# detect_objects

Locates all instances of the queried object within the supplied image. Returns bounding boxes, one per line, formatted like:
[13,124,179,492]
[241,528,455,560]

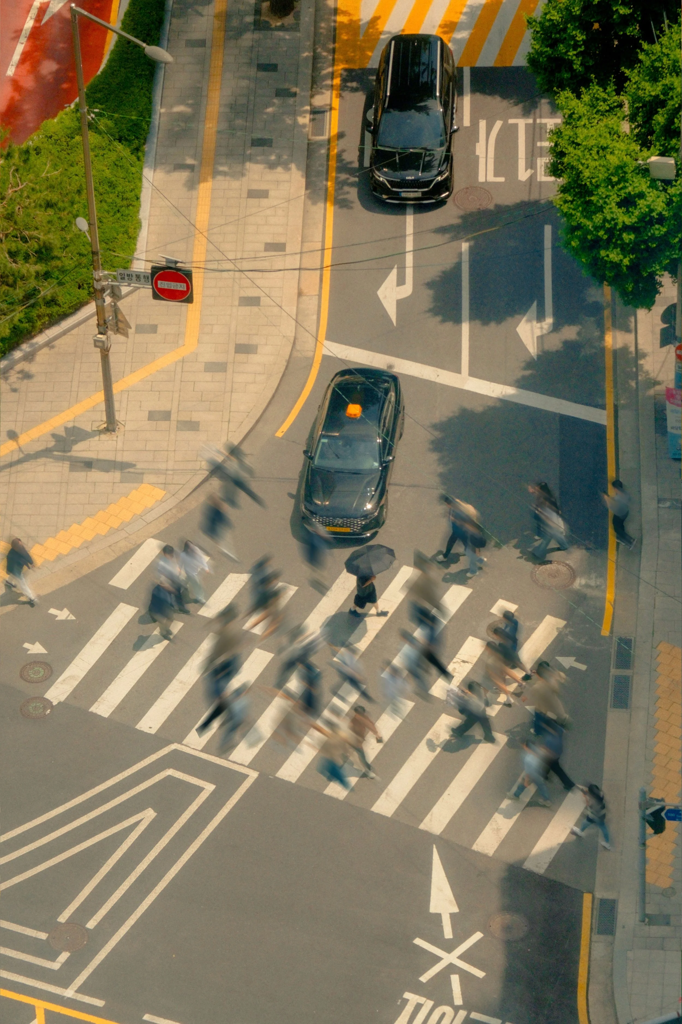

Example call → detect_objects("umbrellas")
[344,542,396,578]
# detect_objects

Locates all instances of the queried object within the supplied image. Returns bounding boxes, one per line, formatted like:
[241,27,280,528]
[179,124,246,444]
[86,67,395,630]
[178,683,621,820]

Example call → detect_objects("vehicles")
[363,37,462,201]
[300,371,405,535]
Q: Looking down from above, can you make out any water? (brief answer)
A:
No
